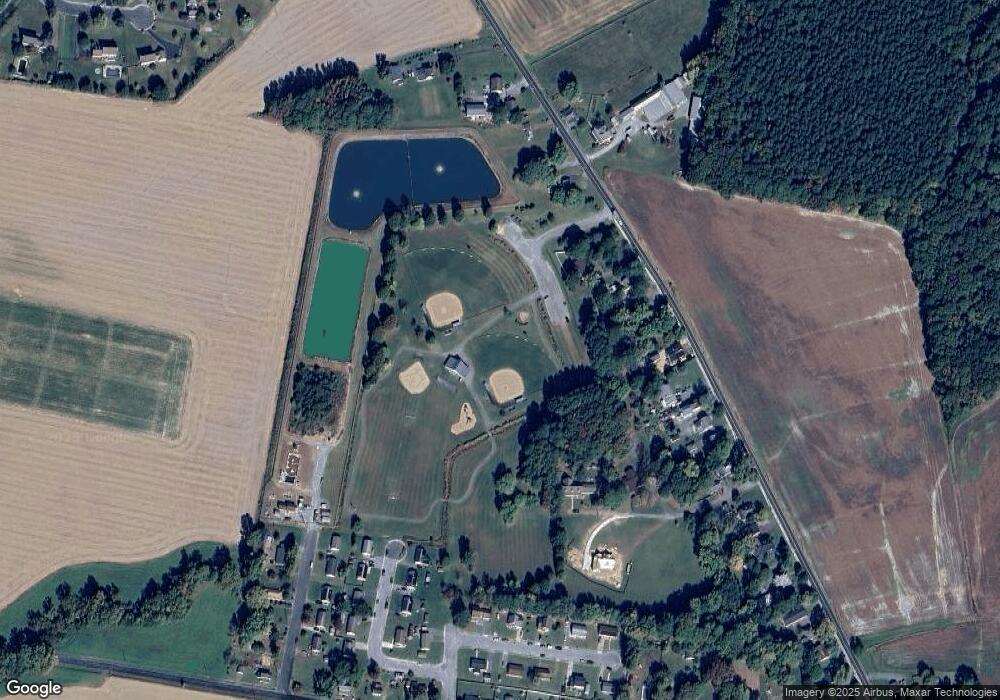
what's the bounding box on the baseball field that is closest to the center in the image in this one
[472,333,555,405]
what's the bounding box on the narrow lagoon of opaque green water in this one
[304,239,367,361]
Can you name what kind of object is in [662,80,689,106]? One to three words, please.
barn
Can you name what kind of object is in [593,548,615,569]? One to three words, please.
house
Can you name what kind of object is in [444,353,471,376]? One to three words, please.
building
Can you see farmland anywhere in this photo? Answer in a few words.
Yes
